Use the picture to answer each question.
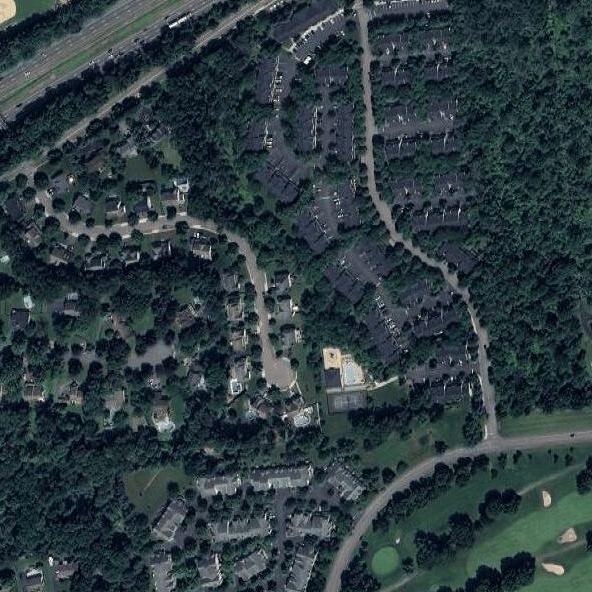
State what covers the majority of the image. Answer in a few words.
trees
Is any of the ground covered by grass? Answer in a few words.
Yes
